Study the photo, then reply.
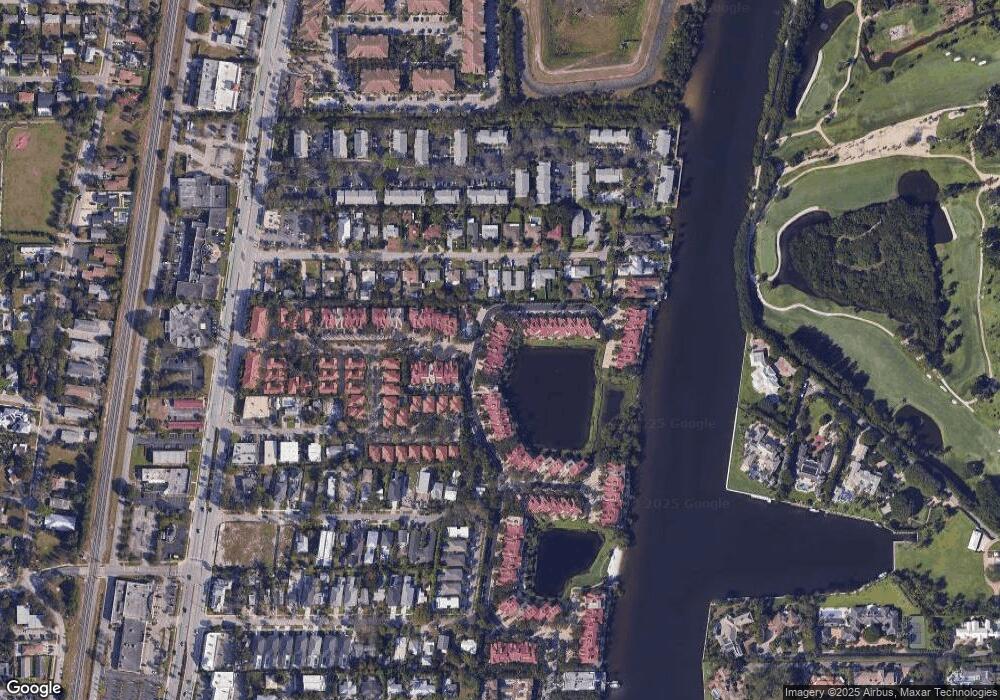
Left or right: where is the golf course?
right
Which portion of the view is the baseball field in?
top left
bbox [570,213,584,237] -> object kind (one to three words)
house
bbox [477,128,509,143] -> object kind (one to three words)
building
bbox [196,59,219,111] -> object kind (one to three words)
building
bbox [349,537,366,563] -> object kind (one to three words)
house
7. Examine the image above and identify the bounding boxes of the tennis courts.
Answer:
[910,616,927,649]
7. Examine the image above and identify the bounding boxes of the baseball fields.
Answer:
[0,124,64,231]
